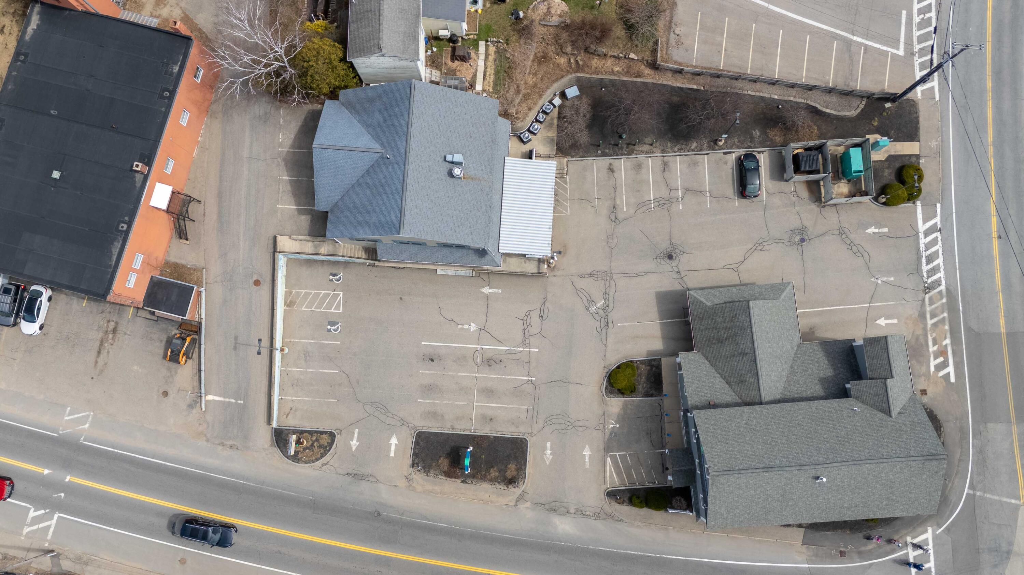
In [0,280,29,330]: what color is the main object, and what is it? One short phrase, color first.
gray car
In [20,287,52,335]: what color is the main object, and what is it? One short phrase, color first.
white car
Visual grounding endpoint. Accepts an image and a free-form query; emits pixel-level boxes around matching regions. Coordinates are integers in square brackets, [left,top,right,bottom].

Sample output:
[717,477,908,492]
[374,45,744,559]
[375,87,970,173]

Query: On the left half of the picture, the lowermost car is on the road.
[180,516,236,548]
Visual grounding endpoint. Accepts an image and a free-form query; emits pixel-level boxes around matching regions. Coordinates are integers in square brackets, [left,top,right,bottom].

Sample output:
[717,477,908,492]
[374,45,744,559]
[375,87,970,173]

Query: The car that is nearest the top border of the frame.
[738,153,761,196]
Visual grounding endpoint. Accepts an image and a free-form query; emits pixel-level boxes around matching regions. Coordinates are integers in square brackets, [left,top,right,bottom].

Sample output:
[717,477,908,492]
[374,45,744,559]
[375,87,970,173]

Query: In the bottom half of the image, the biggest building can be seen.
[660,280,948,532]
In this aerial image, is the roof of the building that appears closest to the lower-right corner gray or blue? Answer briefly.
gray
